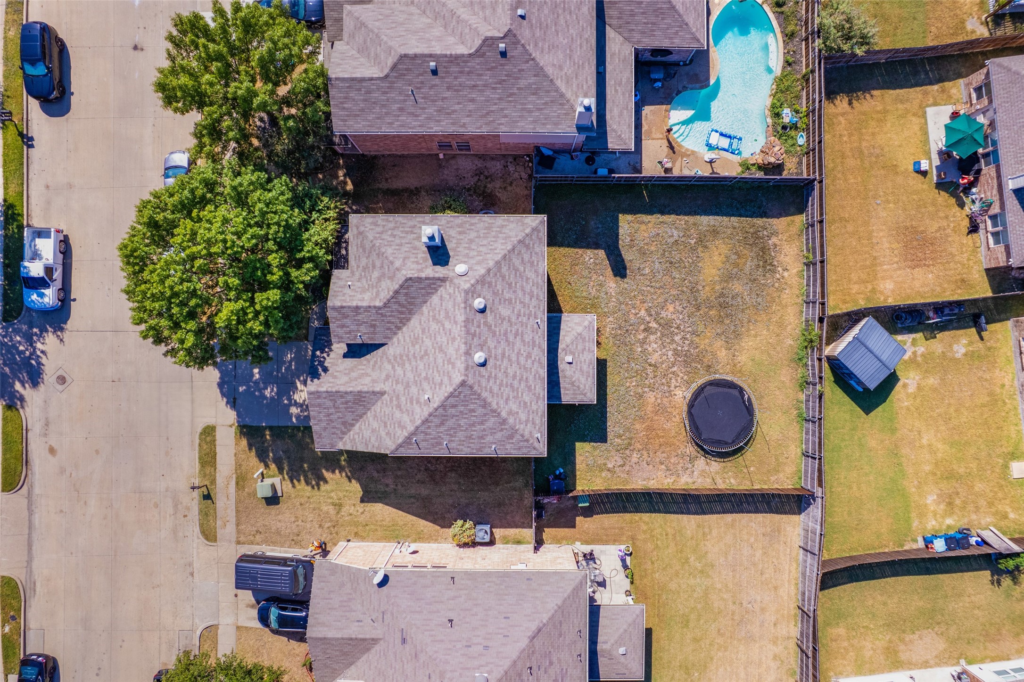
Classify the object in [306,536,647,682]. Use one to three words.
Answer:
house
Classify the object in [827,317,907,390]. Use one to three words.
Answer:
shed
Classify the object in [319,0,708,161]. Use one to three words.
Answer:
house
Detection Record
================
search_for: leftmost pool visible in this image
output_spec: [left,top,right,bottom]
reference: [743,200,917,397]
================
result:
[663,0,783,162]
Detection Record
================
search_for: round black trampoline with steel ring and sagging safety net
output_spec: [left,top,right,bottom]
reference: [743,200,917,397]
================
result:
[683,377,765,451]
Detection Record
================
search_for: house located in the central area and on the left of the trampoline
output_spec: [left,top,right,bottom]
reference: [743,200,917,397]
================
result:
[306,213,598,458]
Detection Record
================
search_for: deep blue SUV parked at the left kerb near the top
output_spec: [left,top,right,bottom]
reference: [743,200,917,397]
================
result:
[18,22,65,100]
